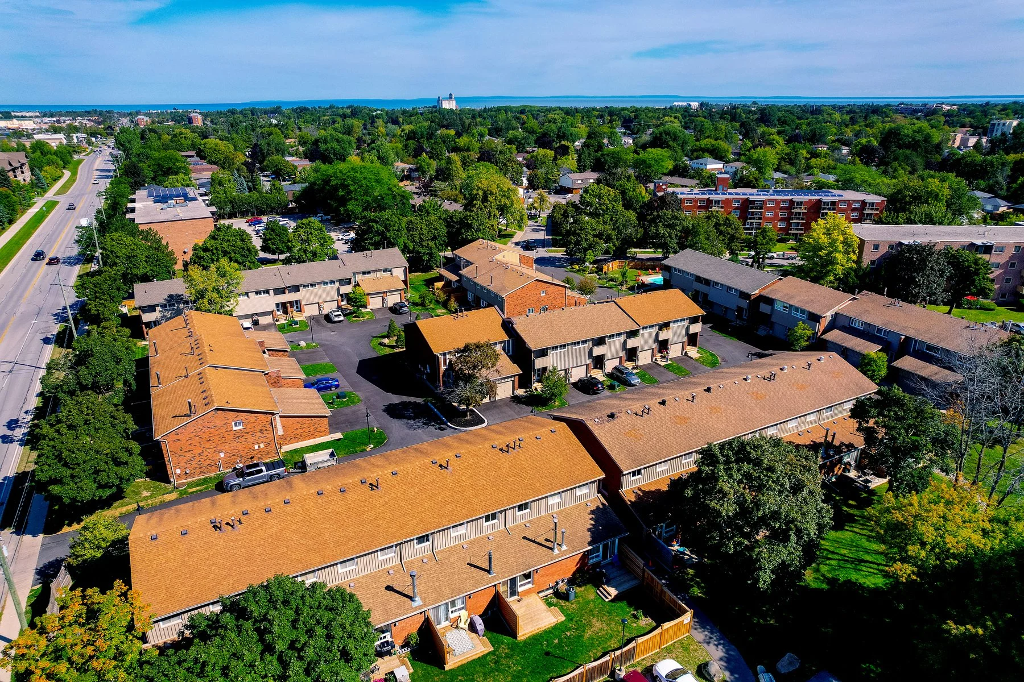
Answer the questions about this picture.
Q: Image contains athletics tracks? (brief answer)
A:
No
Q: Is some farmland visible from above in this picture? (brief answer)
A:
No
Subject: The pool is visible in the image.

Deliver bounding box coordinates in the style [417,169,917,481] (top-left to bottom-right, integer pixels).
[638,273,663,289]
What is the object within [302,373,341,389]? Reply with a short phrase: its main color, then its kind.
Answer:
blue car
